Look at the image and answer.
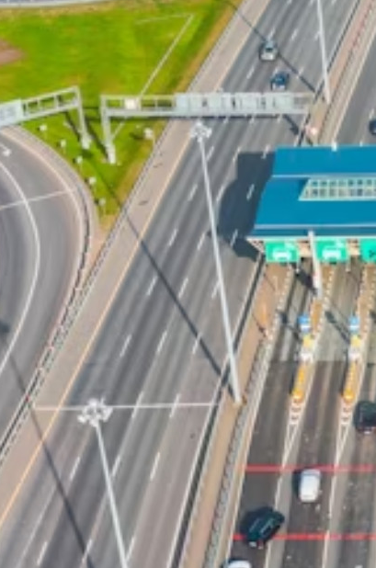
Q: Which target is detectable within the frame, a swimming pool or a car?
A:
car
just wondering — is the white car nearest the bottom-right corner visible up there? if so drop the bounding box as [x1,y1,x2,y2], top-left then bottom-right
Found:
[297,470,321,504]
